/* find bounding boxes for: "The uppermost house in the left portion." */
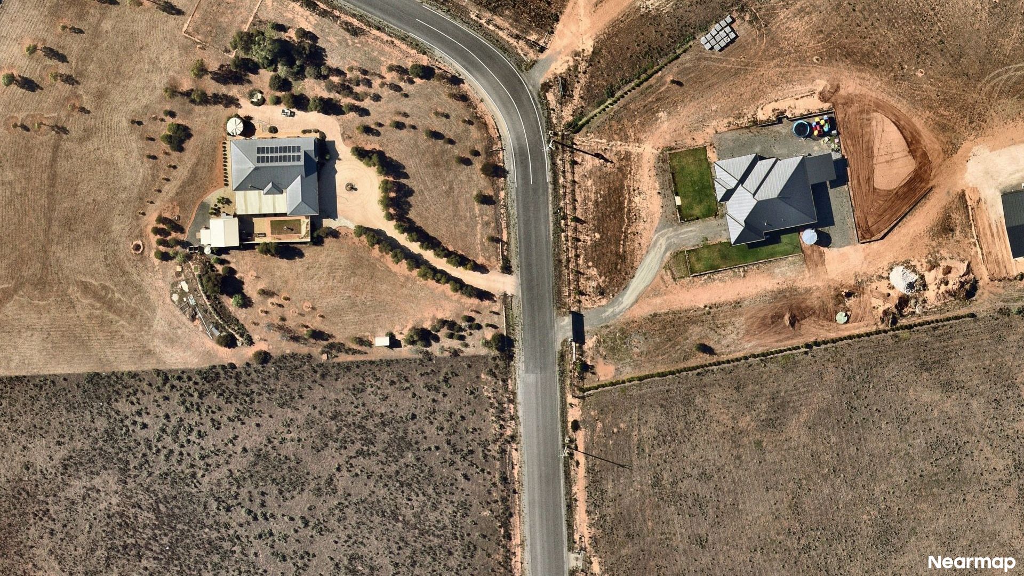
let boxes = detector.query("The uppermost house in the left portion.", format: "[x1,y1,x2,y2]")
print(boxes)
[231,138,319,215]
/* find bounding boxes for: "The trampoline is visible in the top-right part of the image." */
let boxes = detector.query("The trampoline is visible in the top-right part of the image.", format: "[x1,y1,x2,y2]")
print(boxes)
[793,121,810,138]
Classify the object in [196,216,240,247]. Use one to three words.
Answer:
shed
